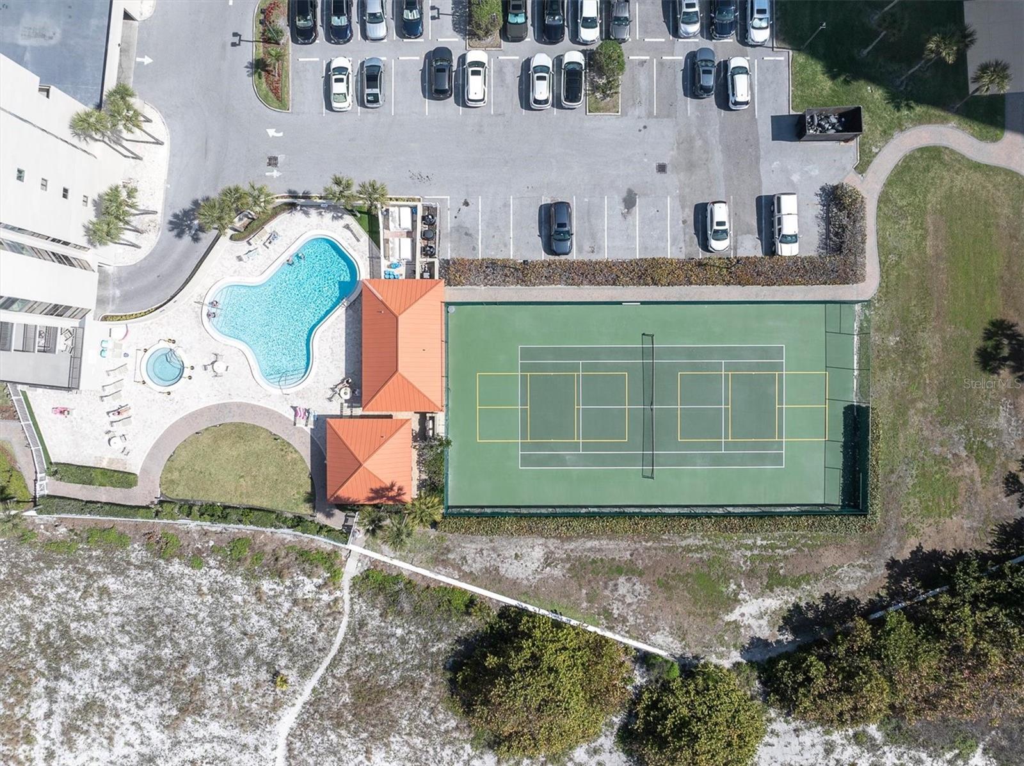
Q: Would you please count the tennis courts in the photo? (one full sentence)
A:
The count comes to 1 tennis court.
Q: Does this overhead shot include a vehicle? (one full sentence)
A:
Yes, the frame does contain a vehicle.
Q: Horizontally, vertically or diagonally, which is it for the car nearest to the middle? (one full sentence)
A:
The car nearest to the middle runs vertically in the image.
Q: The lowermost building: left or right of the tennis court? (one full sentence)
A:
Looking at the photo, the lowermost building lies to the left of the tennis court.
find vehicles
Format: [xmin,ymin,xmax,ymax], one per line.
[747,0,773,48]
[292,0,319,46]
[692,47,719,100]
[576,0,601,46]
[362,0,387,42]
[400,0,425,40]
[711,0,738,42]
[677,0,702,38]
[328,57,353,113]
[549,201,574,256]
[529,53,555,111]
[542,0,567,46]
[464,50,489,108]
[429,47,455,102]
[772,191,800,256]
[561,50,587,109]
[360,57,385,109]
[726,57,753,112]
[504,0,529,45]
[608,0,633,45]
[326,0,352,46]
[705,201,732,254]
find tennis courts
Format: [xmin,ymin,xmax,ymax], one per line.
[446,305,855,507]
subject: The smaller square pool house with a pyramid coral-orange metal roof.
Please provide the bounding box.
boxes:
[326,418,415,504]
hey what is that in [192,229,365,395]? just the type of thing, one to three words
swimming pool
